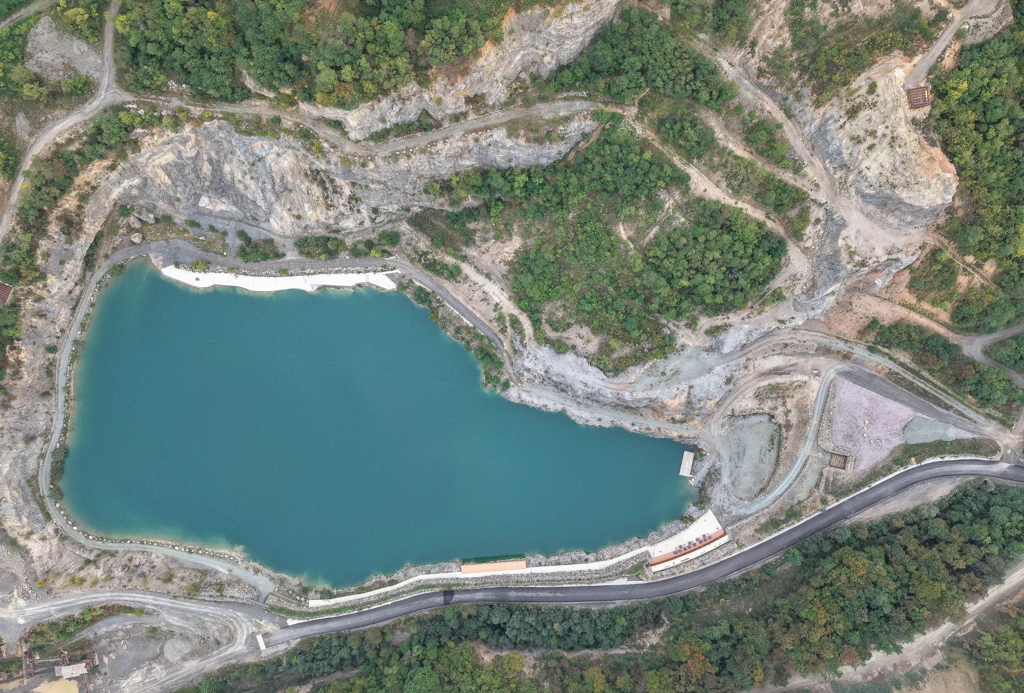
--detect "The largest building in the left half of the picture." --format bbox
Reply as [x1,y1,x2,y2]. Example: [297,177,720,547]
[55,663,88,679]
